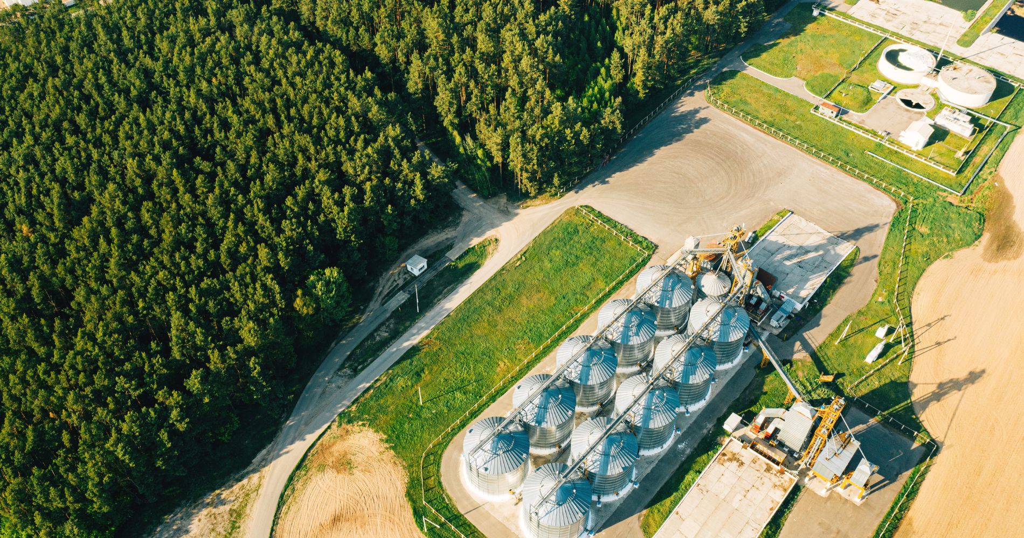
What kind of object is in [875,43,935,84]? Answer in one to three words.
storage tank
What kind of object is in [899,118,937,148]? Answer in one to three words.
building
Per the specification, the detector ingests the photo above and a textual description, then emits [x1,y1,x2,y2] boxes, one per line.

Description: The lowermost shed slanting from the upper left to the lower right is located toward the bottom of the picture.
[752,433,790,467]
